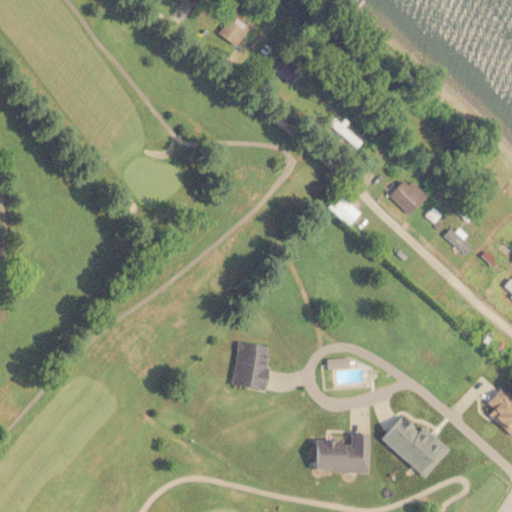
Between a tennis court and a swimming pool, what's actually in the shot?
swimming pool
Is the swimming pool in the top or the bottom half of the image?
bottom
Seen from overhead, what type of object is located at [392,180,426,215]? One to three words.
house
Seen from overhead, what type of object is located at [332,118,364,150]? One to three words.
house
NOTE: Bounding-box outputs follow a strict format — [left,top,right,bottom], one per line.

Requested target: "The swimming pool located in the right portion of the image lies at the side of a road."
[332,358,376,390]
